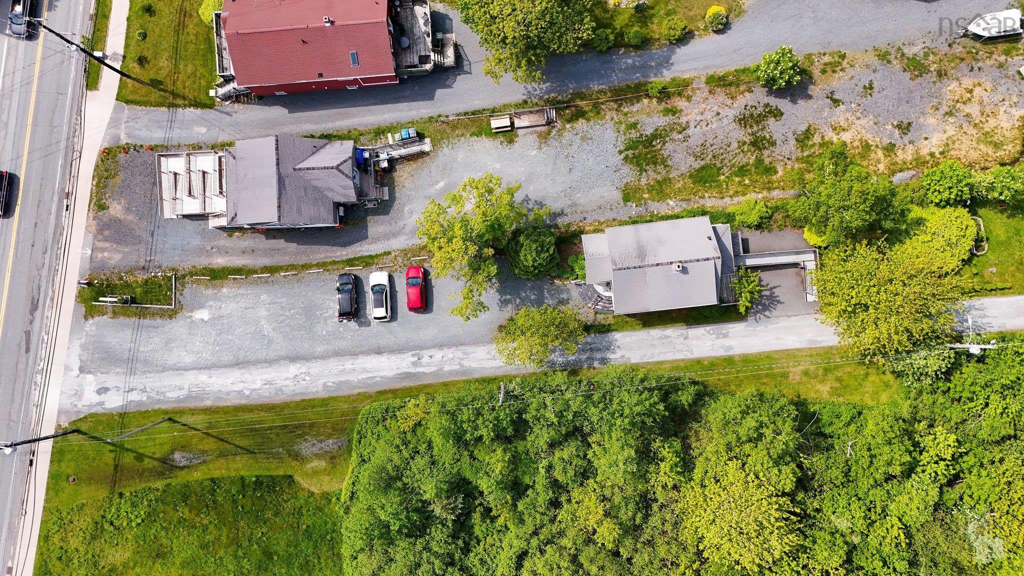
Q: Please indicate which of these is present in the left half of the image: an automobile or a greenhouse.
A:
automobile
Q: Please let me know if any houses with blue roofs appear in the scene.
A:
No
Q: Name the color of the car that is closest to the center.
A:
red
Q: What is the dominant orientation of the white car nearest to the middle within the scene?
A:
vertically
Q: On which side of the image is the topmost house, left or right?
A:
left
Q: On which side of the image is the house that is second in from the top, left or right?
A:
left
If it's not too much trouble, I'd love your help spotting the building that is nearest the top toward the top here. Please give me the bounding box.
[220,0,402,97]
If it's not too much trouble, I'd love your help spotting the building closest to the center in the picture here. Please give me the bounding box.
[581,216,744,315]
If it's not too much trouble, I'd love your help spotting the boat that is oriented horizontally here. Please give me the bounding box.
[963,13,1024,39]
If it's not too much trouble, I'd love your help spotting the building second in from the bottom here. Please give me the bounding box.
[224,136,362,228]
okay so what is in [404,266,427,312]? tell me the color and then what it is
red car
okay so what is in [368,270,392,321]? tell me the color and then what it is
white car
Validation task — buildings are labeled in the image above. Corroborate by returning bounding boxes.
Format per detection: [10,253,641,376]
[220,0,402,97]
[581,216,744,315]
[224,136,362,228]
